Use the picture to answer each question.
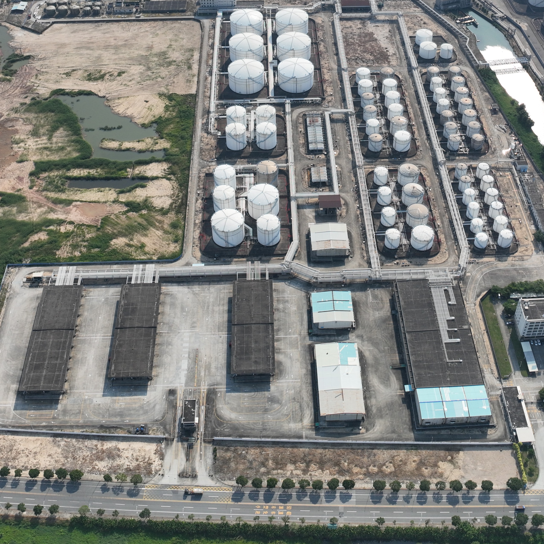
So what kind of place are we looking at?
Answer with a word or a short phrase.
industrial area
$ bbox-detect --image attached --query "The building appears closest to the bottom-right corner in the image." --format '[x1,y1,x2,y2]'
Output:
[501,386,529,433]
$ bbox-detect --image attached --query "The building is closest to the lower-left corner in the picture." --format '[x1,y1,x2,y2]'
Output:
[182,399,197,428]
